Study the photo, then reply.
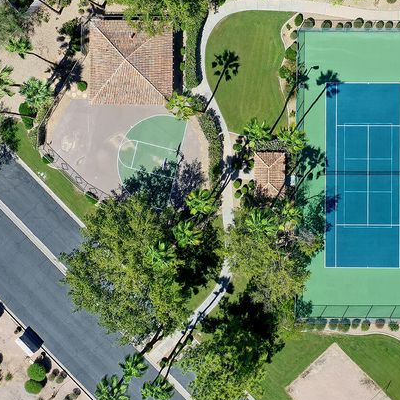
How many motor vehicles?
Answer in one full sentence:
There are no motor vehicles in the image.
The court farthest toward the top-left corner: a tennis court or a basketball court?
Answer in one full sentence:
It looks like the court farthest toward the top-left corner is a basketball court.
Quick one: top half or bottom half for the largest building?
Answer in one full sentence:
It is in the top half that the largest building appears.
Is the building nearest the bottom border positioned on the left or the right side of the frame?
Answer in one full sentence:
The building nearest the bottom border appears in the right half of the scene.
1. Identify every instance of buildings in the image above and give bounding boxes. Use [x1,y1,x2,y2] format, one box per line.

[253,151,286,196]
[89,19,174,106]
